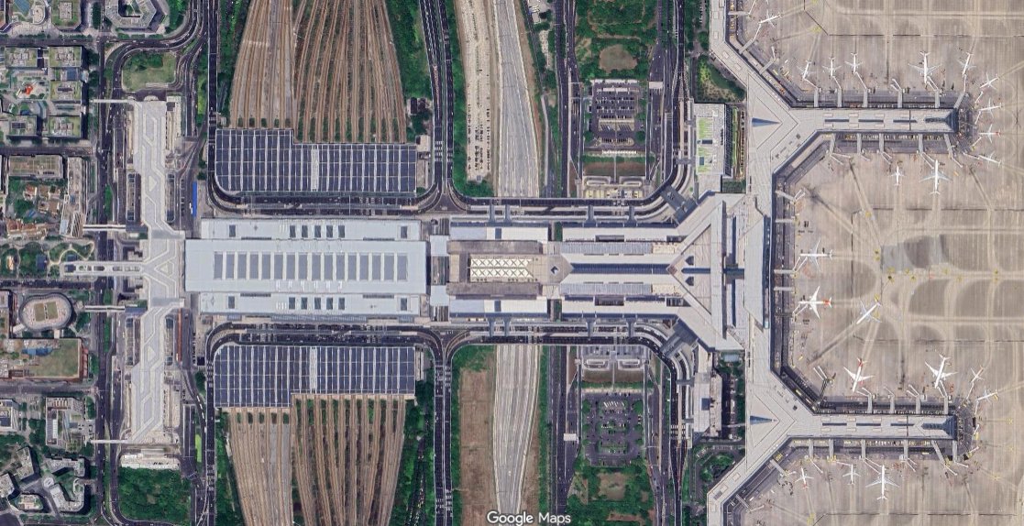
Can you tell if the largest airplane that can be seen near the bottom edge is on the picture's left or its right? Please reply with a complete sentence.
It is on the right.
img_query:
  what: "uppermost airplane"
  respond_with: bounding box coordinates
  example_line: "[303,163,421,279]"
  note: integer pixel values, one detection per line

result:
[760,8,782,27]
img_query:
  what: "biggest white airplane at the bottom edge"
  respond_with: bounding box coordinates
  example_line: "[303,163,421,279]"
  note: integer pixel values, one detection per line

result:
[865,465,900,500]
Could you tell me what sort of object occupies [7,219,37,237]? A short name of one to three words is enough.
house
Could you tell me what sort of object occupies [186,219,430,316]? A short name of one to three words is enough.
train station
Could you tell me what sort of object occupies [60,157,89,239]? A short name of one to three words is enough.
building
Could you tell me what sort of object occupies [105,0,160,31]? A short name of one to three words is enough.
building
